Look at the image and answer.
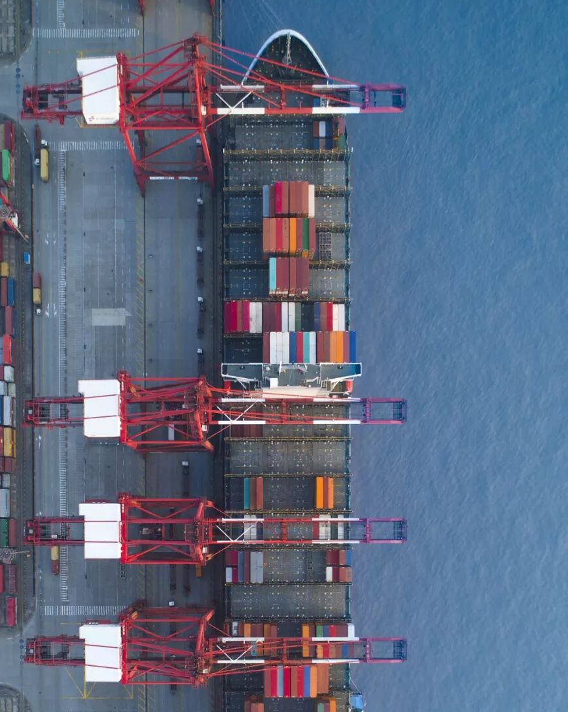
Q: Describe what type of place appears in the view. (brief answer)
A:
port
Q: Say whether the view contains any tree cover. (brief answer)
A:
No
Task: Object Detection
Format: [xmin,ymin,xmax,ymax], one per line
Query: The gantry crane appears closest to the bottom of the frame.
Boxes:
[22,597,408,687]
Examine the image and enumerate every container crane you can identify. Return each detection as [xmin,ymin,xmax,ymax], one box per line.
[22,597,408,687]
[22,489,408,567]
[19,31,406,197]
[21,369,408,460]
[0,191,23,243]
